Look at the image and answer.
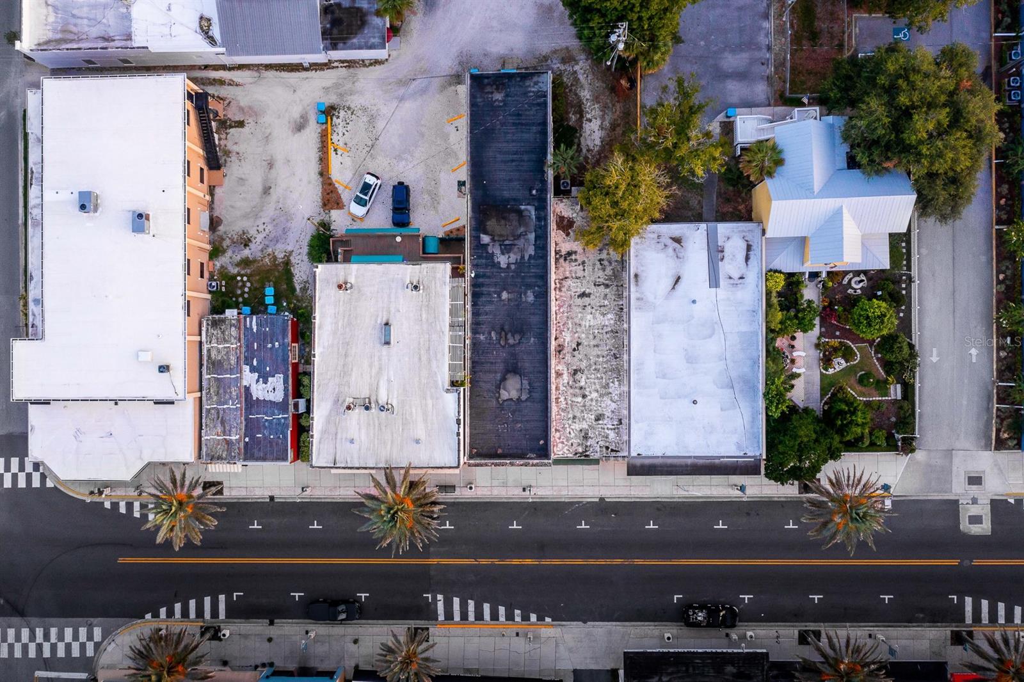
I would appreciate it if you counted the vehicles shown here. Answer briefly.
4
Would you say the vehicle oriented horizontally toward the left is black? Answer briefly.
Yes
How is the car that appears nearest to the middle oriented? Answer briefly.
up and down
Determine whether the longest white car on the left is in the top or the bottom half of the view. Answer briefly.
top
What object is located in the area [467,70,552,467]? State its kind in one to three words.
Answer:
building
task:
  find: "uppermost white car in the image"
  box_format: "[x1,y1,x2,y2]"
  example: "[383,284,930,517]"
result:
[348,167,382,220]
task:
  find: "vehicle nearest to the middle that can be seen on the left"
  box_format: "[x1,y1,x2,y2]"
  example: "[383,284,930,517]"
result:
[388,180,410,226]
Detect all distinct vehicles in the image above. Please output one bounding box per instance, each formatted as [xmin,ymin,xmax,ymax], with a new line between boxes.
[305,601,361,627]
[685,607,740,633]
[348,167,382,220]
[388,180,410,226]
